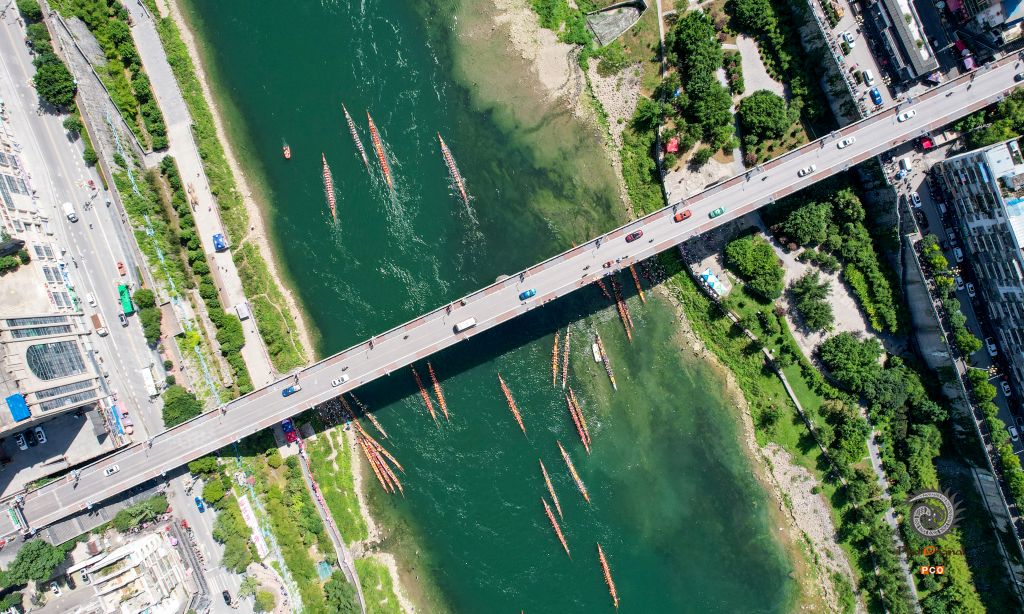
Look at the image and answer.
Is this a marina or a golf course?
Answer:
marina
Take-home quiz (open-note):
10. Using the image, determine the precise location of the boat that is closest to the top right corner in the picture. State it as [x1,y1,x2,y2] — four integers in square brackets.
[629,263,646,304]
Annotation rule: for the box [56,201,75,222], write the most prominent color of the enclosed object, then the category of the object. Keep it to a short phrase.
white vehicle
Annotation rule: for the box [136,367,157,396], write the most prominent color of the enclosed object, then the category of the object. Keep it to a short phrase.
white bus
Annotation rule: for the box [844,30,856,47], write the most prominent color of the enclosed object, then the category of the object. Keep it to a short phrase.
white vehicle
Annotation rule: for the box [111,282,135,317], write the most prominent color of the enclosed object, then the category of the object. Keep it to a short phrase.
green truck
